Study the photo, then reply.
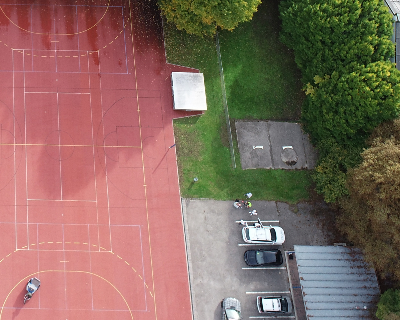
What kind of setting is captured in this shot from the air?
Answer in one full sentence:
This image shows a sports ground.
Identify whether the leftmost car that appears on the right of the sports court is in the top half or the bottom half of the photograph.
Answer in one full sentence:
The bottom half of the photo is where the leftmost car that appears on the right of the sports court is.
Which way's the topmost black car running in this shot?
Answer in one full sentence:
In this picture, the topmost black car is oriented from side to side.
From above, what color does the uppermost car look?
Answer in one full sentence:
From above, the uppermost car appears white.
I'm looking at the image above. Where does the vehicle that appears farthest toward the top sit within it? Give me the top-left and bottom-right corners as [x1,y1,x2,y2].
[243,218,287,246]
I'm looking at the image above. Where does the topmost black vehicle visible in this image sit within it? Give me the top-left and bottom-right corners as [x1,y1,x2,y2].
[246,248,286,268]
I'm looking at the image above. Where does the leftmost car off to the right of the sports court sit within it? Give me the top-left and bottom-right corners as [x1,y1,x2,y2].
[222,298,244,320]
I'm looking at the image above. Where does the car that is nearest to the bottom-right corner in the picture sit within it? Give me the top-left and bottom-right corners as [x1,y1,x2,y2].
[258,295,296,317]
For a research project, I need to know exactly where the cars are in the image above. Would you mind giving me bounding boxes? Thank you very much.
[258,295,296,317]
[222,298,244,320]
[246,248,286,268]
[243,218,287,246]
